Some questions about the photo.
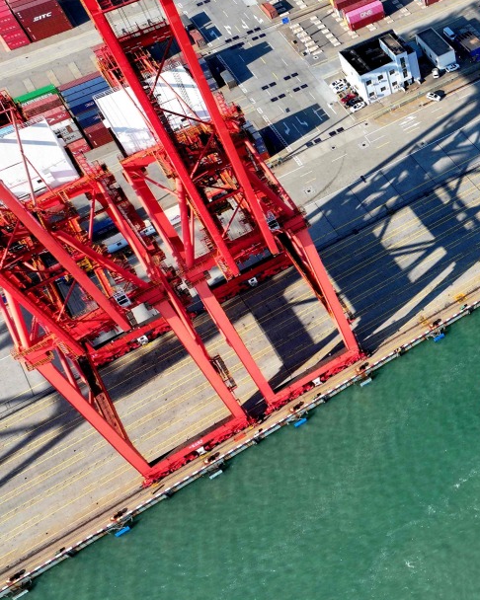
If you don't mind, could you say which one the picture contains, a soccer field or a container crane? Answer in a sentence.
The image shows a container crane.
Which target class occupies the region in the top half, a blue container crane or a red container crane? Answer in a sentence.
Looking in the top half, you will find a red container crane.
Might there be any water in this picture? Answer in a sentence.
Yes, water can be seen from above here.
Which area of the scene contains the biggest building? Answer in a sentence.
You can find the biggest building in the top right area of the picture.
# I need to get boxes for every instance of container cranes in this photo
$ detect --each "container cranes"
[66,0,375,416]
[0,110,263,490]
